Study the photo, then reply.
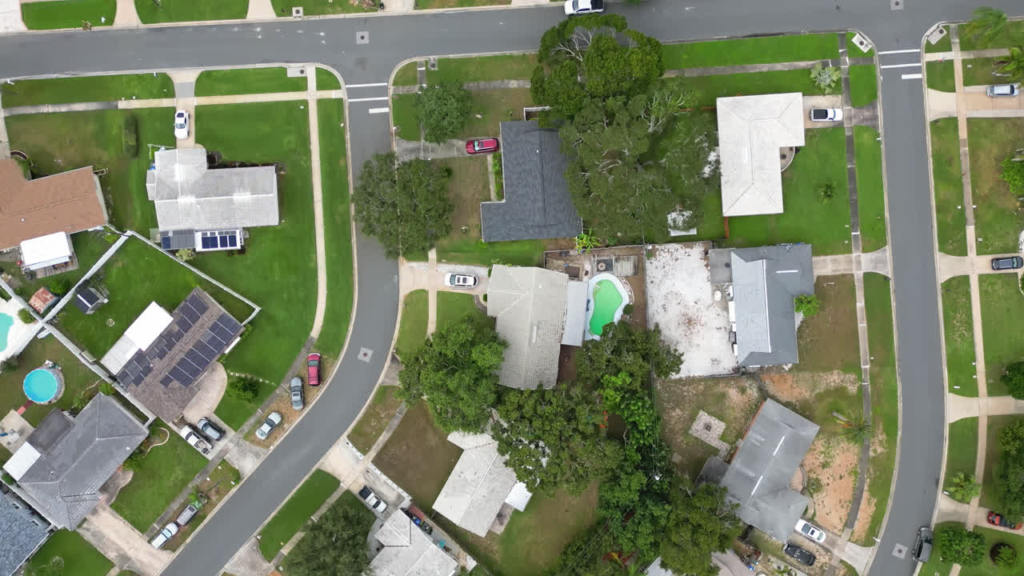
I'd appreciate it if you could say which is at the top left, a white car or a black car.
white car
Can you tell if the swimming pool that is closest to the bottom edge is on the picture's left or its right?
left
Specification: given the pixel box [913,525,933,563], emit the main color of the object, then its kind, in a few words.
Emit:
gray car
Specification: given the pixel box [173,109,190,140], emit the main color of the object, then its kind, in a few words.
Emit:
white car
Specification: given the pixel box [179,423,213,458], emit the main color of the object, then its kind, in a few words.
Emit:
white truck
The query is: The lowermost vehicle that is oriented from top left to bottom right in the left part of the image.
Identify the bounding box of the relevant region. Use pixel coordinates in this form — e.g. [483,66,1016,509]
[356,483,388,516]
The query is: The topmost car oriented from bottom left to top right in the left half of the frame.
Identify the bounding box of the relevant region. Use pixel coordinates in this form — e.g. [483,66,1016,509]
[255,411,282,440]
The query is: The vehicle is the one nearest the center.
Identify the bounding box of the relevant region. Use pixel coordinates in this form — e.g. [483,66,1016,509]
[446,273,478,288]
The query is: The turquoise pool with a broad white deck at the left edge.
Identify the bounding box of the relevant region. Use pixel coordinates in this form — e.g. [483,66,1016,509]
[0,297,41,360]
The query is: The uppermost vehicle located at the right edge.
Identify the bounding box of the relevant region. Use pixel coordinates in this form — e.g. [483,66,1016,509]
[985,82,1018,98]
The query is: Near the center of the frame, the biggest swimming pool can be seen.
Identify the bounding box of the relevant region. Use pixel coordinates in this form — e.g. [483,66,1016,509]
[582,272,629,344]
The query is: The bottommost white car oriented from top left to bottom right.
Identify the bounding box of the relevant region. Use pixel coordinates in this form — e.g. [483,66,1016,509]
[795,518,828,544]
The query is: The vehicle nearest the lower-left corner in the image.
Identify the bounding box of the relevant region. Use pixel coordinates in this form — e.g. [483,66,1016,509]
[147,521,180,552]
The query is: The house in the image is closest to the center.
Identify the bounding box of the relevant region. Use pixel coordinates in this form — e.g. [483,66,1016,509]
[487,265,588,390]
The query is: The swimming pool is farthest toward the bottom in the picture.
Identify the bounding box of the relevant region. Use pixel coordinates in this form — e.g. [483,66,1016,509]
[22,363,67,406]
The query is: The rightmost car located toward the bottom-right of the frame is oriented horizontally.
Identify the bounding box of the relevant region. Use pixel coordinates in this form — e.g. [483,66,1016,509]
[984,511,1021,530]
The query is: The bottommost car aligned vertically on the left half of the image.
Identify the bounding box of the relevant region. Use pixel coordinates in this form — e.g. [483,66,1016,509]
[288,377,305,410]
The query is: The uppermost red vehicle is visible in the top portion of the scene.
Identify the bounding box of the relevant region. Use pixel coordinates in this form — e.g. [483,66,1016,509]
[466,137,499,153]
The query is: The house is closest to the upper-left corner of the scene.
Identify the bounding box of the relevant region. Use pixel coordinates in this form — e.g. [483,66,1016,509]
[0,158,113,270]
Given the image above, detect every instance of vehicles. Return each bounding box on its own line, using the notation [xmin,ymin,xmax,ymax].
[173,109,190,140]
[913,525,933,563]
[795,518,828,544]
[991,254,1024,269]
[985,82,1018,98]
[305,353,321,386]
[197,416,224,444]
[356,483,388,516]
[808,106,844,122]
[446,273,478,288]
[147,521,180,552]
[984,511,1021,530]
[466,137,499,153]
[565,0,605,14]
[174,503,200,527]
[288,377,305,410]
[179,423,213,458]
[255,411,282,440]
[781,541,817,568]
